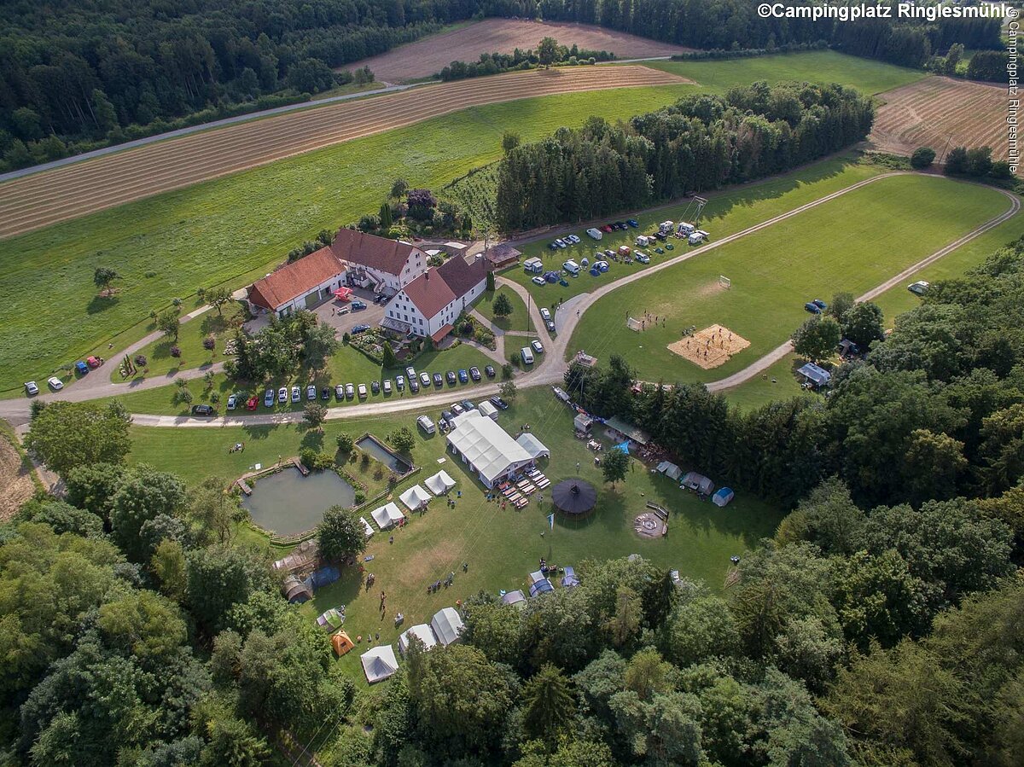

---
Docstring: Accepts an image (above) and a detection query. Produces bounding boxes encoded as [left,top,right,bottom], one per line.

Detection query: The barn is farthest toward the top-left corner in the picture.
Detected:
[247,245,347,322]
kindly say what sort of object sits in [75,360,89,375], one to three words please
car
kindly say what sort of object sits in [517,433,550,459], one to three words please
tent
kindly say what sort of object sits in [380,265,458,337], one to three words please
house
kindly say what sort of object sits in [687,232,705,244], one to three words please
vehicle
